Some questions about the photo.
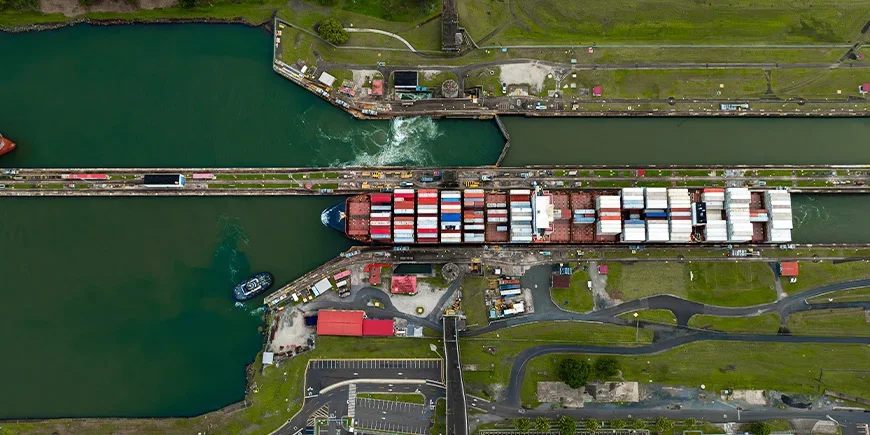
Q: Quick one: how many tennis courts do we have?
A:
none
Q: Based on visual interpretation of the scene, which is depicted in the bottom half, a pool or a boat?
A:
boat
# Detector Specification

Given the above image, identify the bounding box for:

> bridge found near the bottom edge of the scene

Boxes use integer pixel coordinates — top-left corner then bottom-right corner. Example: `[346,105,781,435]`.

[443,314,466,435]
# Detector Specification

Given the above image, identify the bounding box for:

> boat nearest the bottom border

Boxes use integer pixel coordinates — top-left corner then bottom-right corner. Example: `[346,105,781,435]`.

[233,273,274,299]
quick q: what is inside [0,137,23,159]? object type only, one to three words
ship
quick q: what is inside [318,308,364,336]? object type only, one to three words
building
